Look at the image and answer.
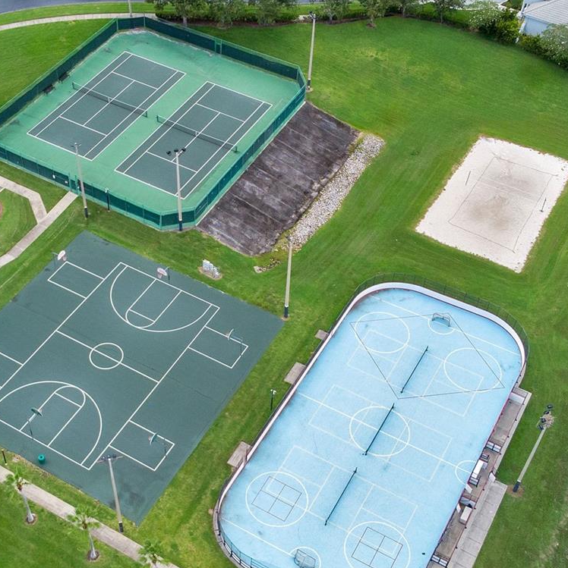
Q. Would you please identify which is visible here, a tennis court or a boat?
tennis court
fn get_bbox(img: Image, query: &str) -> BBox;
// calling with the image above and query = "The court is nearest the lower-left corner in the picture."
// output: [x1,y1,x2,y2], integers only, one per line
[0,230,283,525]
